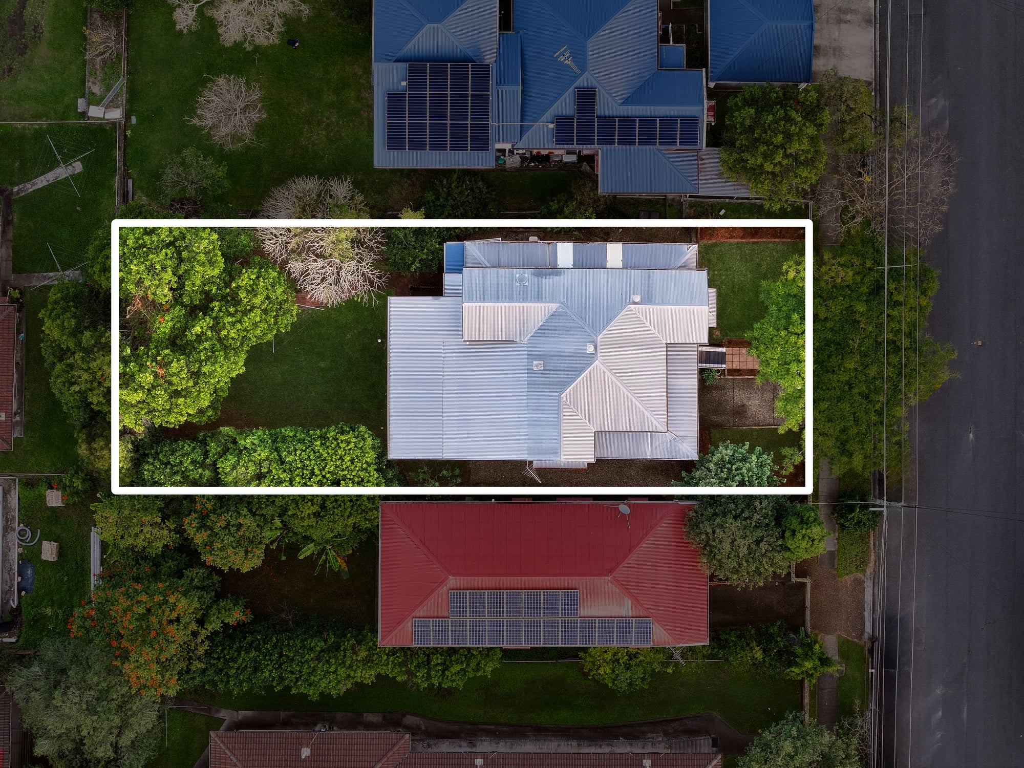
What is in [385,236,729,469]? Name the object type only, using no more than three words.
house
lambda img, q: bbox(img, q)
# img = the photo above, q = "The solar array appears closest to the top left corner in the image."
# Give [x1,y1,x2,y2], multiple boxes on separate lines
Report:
[385,63,491,151]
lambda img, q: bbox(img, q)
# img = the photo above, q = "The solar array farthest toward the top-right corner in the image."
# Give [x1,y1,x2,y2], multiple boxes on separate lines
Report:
[553,89,702,144]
